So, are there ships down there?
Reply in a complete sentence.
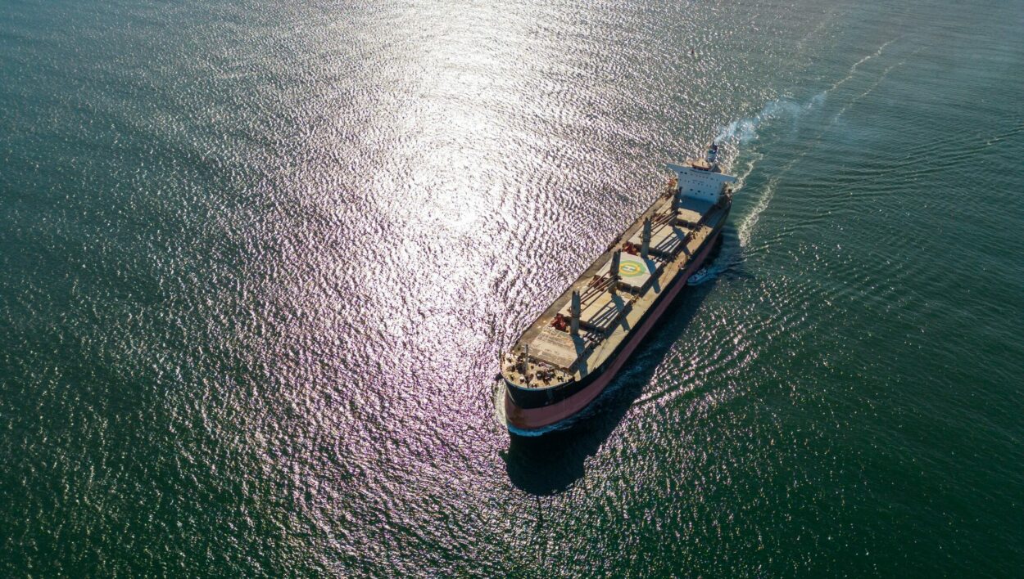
Yes, a ship appears in the view.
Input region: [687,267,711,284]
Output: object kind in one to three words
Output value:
boat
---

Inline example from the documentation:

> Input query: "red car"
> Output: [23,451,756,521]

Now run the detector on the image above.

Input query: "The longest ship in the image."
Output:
[493,141,739,425]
